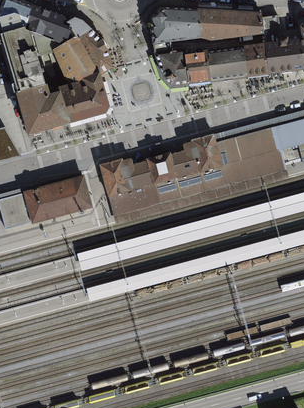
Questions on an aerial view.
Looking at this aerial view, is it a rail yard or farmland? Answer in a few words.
rail yard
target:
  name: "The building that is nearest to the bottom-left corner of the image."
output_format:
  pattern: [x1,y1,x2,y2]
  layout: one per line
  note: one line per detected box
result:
[0,194,31,228]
